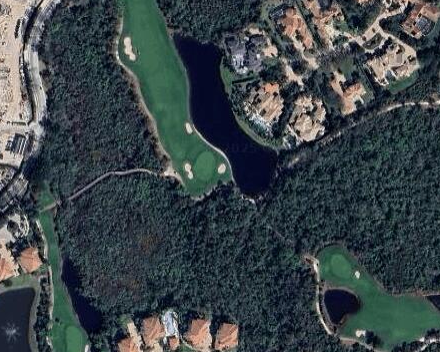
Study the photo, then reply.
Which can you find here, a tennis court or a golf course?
golf course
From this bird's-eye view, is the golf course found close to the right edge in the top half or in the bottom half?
bottom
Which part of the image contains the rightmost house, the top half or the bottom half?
top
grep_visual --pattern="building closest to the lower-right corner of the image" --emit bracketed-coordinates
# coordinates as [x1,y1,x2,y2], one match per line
[212,322,239,349]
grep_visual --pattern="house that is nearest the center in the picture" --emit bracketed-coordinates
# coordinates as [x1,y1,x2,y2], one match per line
[242,87,280,123]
